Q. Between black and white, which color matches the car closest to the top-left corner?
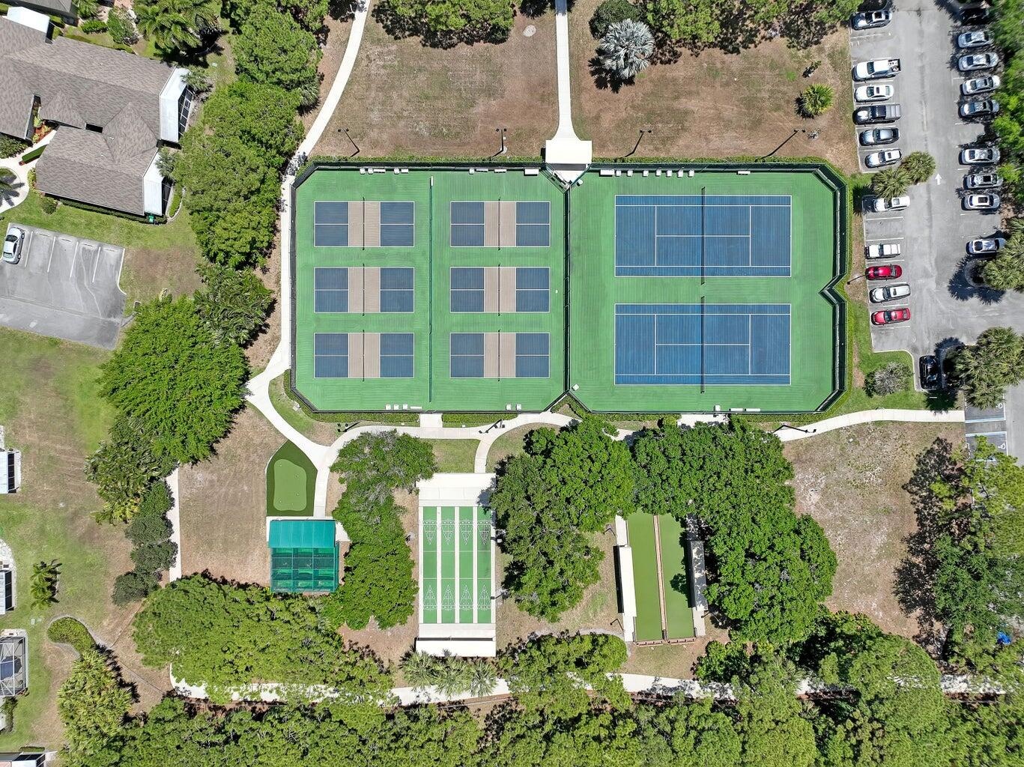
white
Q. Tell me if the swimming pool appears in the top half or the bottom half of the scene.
bottom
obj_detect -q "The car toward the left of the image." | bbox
[2,226,27,263]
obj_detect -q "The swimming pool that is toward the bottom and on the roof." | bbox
[0,656,21,678]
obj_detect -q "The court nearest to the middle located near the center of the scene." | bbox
[450,333,550,378]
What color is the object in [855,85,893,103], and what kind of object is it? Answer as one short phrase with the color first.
white car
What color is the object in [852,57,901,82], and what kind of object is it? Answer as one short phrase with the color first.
white truck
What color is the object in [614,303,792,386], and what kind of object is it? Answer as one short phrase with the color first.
blue tennis court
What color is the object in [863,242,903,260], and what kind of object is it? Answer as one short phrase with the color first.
white car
